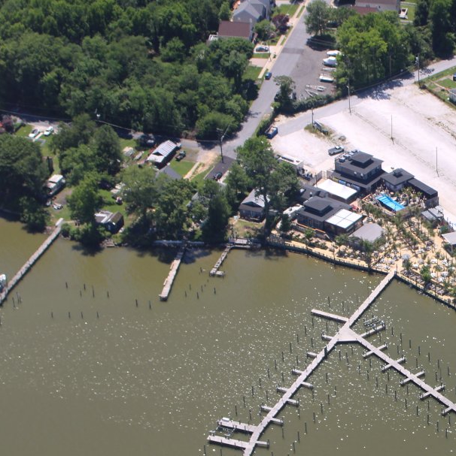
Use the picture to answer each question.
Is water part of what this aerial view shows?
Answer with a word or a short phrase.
Yes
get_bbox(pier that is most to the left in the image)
[0,222,65,310]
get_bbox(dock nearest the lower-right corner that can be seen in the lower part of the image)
[349,321,456,420]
